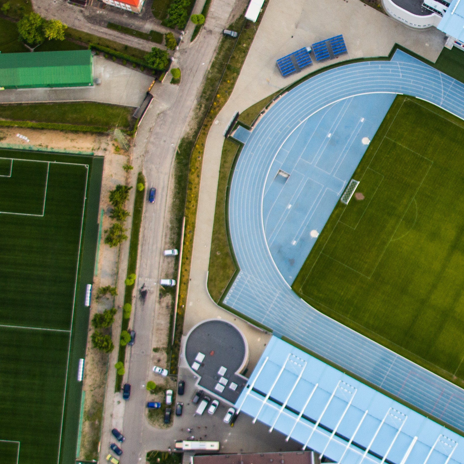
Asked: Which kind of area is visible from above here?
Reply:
sports ground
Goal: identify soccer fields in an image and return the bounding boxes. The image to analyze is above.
[292,94,464,390]
[0,148,104,464]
